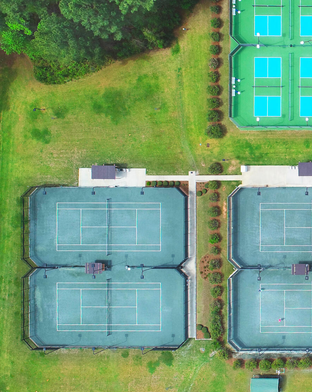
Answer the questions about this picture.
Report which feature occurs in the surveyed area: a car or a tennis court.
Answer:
tennis court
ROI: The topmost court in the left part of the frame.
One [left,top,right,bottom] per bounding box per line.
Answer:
[29,188,184,268]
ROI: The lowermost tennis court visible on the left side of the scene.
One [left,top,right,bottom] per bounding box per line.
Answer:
[29,268,184,348]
